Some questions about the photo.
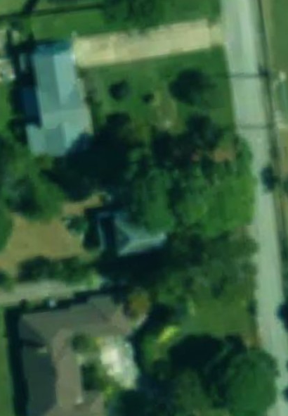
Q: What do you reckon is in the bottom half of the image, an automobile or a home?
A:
home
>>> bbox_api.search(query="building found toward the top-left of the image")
[20,39,87,155]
